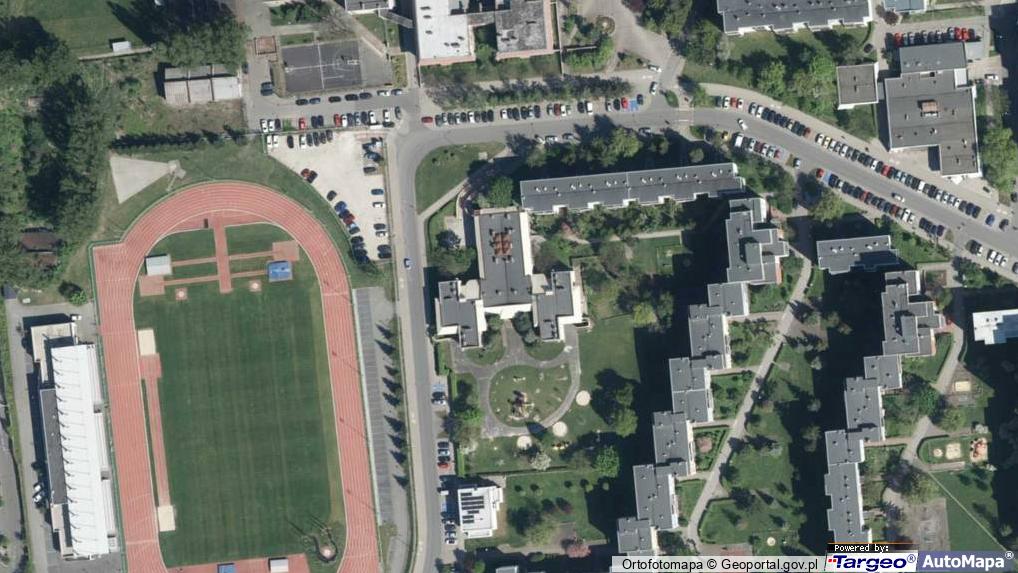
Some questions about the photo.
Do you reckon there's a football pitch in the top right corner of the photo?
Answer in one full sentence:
No, I see no football pitch in the top right corner of the photo.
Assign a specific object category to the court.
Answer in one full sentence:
The court can be classified as a basketball court.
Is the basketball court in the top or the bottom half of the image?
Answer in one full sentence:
The basketball court sits in the top half of the picture.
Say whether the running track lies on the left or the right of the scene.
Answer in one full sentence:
The running track sits on the left side.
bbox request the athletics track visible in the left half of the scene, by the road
[93,181,371,573]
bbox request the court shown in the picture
[281,41,362,90]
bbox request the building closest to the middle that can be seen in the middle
[437,204,580,348]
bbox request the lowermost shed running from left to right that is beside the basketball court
[164,65,247,105]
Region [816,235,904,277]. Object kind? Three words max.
building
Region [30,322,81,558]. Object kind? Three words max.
building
